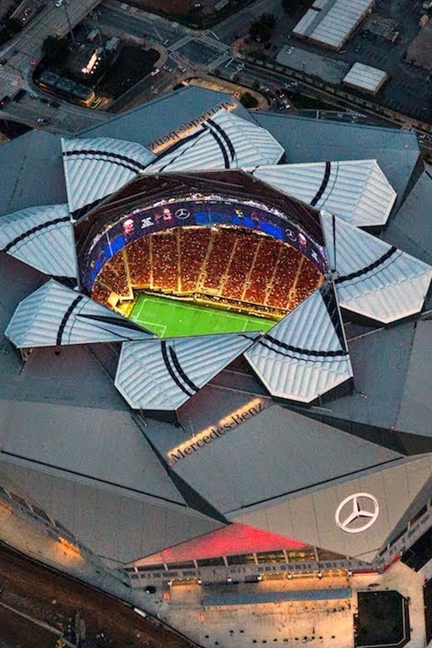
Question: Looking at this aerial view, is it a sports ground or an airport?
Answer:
sports ground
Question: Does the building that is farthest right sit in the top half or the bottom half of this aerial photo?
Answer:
top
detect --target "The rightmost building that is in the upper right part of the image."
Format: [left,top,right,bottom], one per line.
[343,62,389,98]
